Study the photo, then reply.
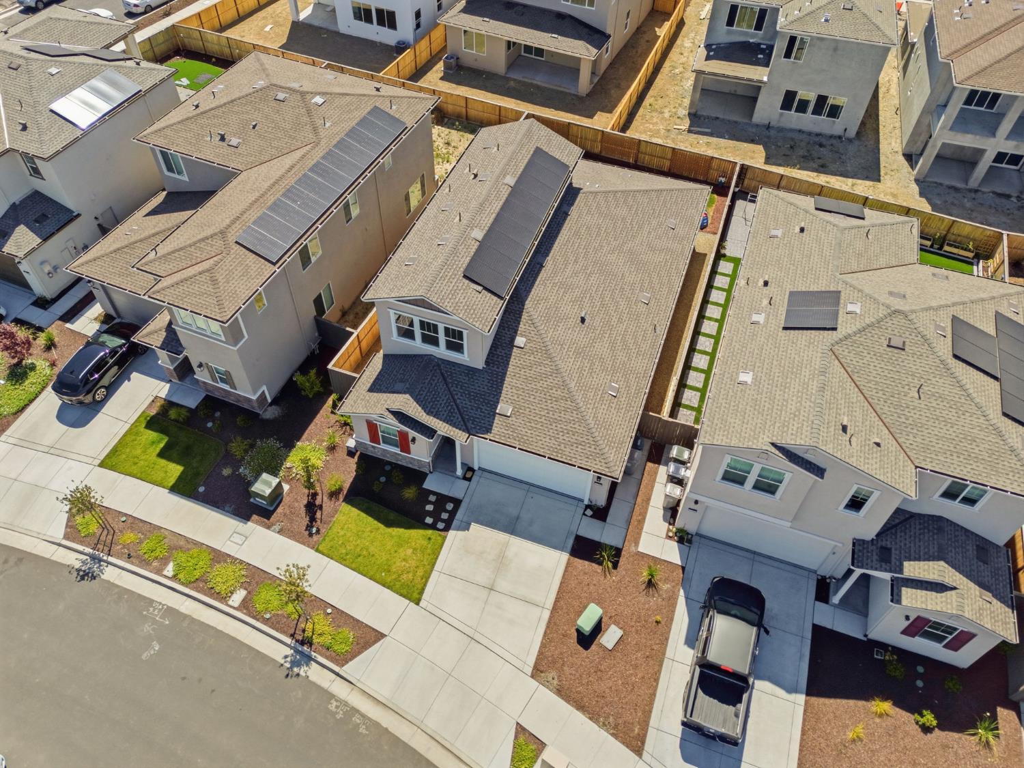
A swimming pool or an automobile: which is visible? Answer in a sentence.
I can see an automobile in this picture.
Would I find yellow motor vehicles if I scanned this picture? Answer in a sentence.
No, there's no yellow motor vehicle here.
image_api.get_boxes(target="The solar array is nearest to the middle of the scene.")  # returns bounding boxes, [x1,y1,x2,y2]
[460,146,571,296]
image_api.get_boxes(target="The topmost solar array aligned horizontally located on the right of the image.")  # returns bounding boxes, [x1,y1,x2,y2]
[815,196,866,218]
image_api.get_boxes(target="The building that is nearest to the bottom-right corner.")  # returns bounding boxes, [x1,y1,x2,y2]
[675,186,1024,669]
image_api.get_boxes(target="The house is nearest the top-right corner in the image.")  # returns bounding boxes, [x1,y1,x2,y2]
[894,0,1024,193]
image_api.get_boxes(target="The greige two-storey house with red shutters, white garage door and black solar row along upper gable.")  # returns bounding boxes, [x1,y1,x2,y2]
[336,120,712,507]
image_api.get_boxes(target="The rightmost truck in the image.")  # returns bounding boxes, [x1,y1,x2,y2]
[682,576,767,748]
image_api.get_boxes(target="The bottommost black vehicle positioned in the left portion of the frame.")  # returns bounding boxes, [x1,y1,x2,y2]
[51,322,147,405]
